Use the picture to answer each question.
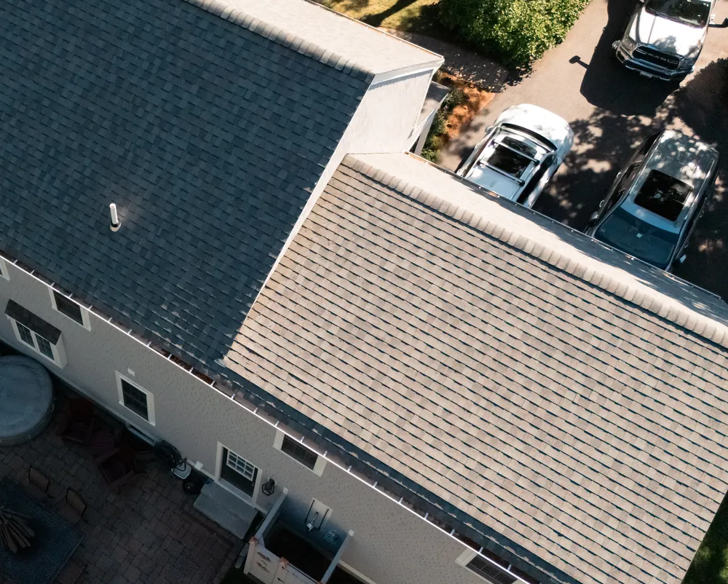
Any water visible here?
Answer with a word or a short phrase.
No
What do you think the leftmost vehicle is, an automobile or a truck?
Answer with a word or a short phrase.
automobile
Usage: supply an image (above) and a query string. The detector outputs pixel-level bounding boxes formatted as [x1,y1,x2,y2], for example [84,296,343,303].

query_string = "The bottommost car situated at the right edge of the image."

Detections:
[586,123,725,270]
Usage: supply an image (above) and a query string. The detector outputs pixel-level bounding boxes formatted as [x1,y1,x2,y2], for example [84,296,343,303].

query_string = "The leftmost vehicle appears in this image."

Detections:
[462,101,572,205]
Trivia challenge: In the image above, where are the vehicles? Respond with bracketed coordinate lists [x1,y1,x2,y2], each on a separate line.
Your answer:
[610,0,728,87]
[586,123,725,270]
[462,101,572,205]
